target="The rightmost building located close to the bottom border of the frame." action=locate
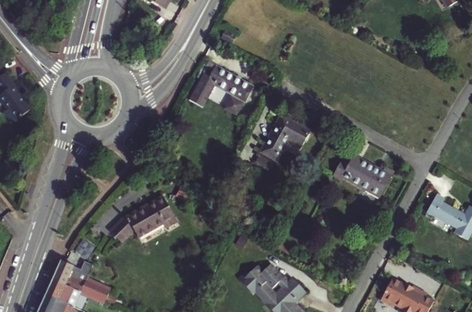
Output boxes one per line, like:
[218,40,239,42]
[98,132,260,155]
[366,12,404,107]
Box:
[374,278,434,312]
